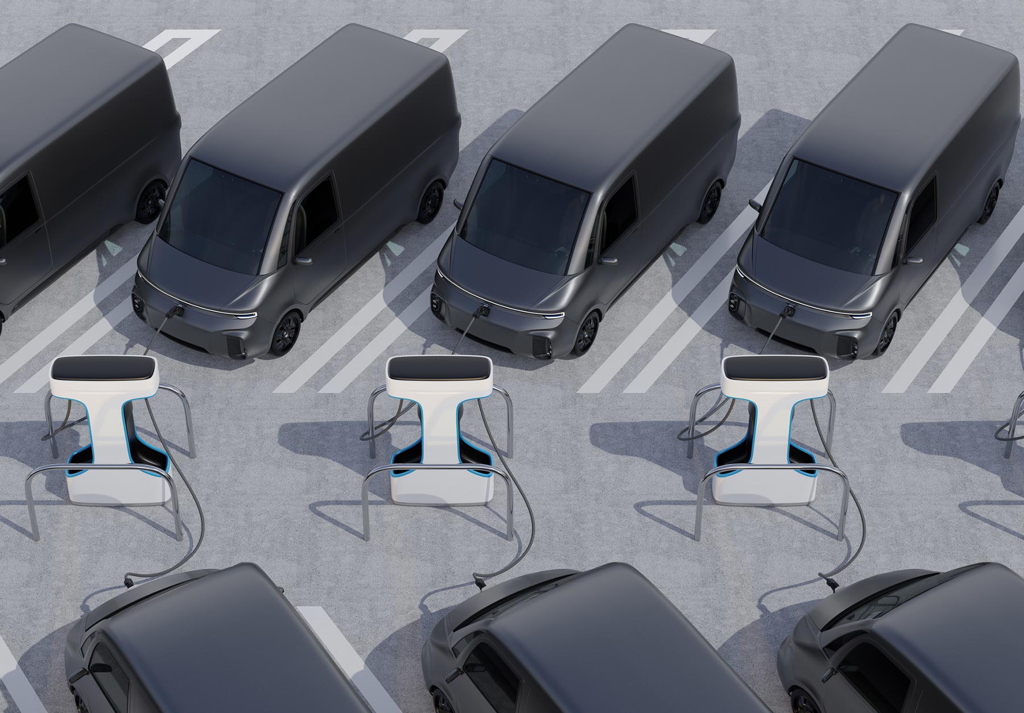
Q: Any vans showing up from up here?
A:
Yes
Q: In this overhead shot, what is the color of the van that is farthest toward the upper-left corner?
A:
black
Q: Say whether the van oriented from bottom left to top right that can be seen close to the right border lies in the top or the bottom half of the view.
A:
top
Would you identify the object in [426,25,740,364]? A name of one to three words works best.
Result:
van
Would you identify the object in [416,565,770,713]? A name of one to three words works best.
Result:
van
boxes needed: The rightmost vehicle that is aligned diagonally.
[725,25,1020,364]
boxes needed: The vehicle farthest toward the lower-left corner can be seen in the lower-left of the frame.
[60,565,370,713]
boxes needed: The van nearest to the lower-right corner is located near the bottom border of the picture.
[772,565,1024,713]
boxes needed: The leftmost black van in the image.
[0,25,180,323]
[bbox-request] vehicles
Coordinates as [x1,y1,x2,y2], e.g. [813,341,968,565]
[772,565,1024,713]
[426,25,740,364]
[416,565,770,713]
[127,25,460,364]
[60,565,370,713]
[0,25,180,323]
[725,25,1020,364]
